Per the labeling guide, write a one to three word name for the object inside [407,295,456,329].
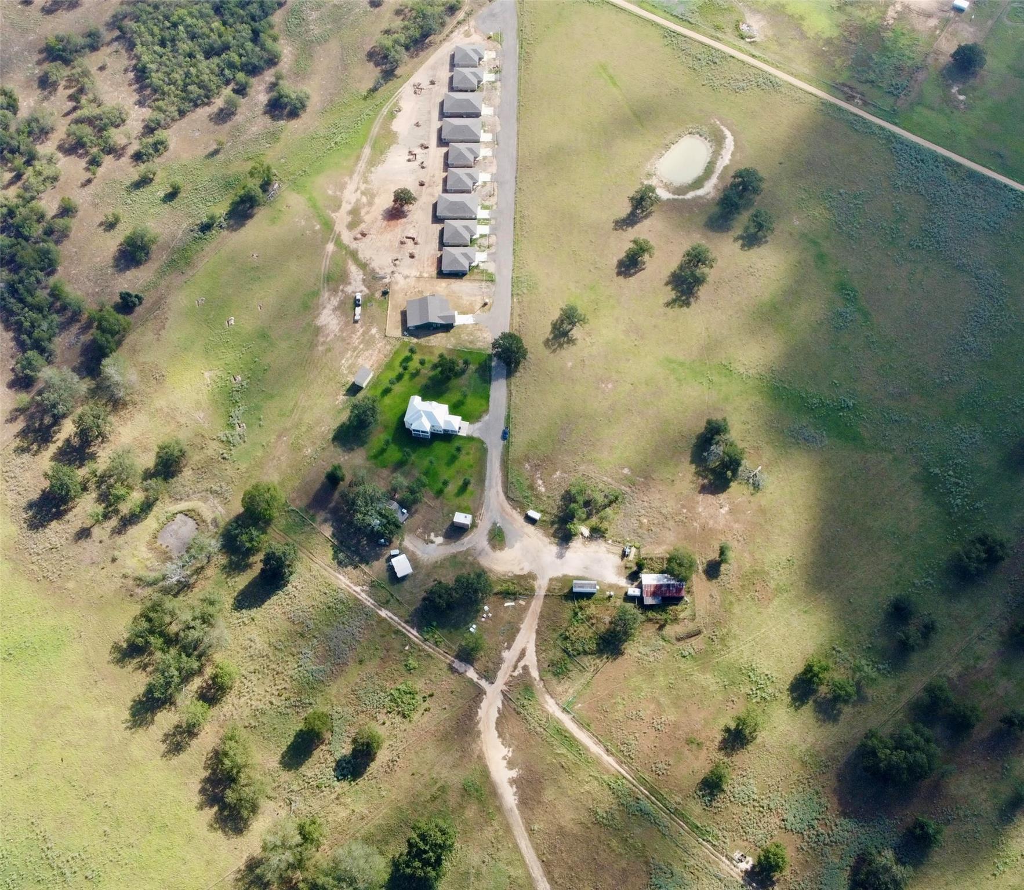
house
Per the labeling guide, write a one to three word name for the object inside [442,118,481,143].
house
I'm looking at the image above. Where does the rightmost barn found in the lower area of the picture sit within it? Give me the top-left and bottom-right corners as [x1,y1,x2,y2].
[642,574,685,607]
